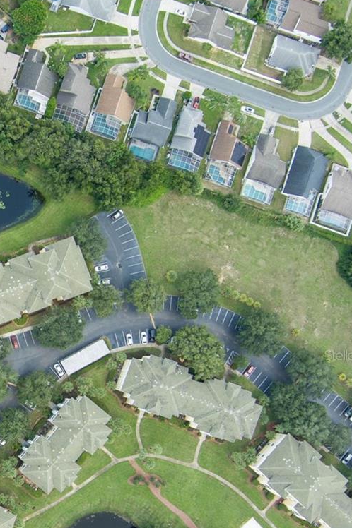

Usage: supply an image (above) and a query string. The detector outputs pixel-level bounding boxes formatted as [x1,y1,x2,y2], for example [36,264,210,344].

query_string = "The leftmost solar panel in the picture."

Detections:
[193,126,210,154]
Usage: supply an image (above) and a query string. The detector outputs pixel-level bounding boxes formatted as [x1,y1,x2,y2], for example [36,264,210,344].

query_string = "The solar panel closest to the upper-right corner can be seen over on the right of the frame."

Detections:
[232,140,246,163]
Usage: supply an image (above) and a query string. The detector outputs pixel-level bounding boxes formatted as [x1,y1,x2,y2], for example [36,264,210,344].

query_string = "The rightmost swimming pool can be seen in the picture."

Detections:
[312,211,351,236]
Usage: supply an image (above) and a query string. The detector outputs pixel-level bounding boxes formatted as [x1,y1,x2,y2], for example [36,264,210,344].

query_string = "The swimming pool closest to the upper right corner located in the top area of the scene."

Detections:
[263,0,287,30]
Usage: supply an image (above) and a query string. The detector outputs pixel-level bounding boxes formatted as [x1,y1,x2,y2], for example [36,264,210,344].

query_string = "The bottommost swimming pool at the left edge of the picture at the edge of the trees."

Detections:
[13,87,50,117]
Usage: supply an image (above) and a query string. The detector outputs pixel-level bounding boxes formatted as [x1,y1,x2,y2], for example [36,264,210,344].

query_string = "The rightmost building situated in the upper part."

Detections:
[317,163,352,219]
